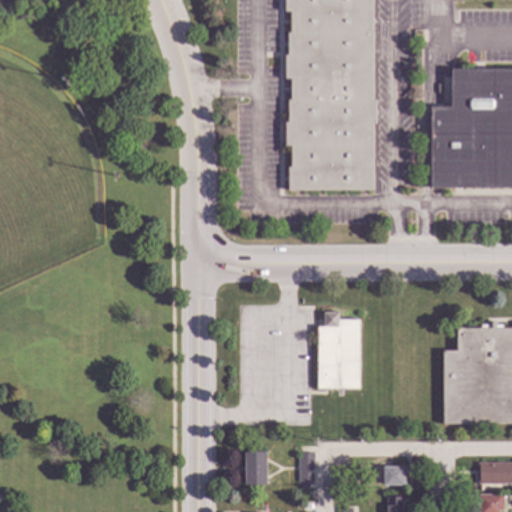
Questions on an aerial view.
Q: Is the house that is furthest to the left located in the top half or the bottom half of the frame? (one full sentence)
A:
The house that is furthest to the left sits in the bottom half of the picture.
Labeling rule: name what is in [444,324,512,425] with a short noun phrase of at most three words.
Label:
building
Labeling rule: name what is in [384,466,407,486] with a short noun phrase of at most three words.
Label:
house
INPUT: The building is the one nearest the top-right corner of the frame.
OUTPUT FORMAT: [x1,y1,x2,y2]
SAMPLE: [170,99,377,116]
[432,68,512,188]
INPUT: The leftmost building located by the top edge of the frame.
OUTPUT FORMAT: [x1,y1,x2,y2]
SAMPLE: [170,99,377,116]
[286,0,376,190]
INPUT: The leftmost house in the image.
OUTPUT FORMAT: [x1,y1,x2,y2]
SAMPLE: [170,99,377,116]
[246,452,268,485]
